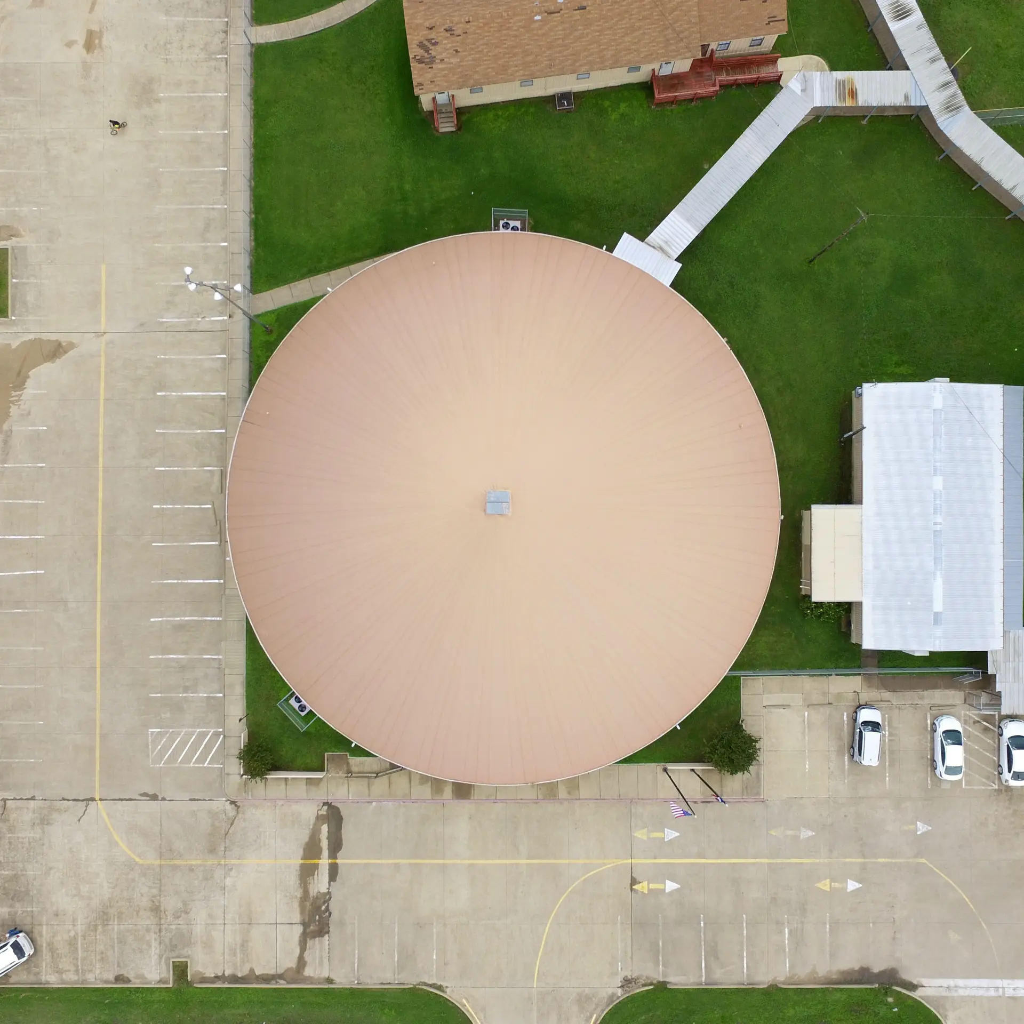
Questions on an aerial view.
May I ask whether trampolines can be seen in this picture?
No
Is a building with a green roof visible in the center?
No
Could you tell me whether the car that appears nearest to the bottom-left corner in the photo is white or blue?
white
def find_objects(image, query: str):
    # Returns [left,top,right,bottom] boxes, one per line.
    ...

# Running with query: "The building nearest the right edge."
[851,378,1024,655]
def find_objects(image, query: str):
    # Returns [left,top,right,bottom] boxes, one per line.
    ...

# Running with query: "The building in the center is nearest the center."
[227,232,782,787]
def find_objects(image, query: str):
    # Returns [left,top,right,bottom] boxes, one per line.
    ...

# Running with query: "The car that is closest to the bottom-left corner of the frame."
[0,931,38,977]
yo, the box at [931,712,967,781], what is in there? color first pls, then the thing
white car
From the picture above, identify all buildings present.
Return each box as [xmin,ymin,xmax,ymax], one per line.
[851,378,1024,655]
[402,0,788,110]
[227,232,782,787]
